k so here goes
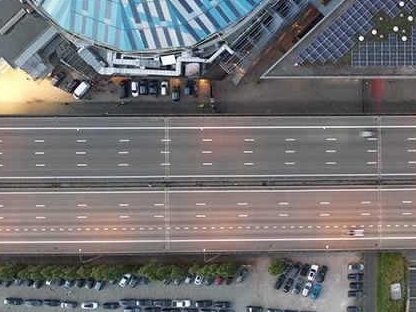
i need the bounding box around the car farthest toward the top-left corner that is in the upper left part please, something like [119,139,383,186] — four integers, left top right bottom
[53,70,66,85]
